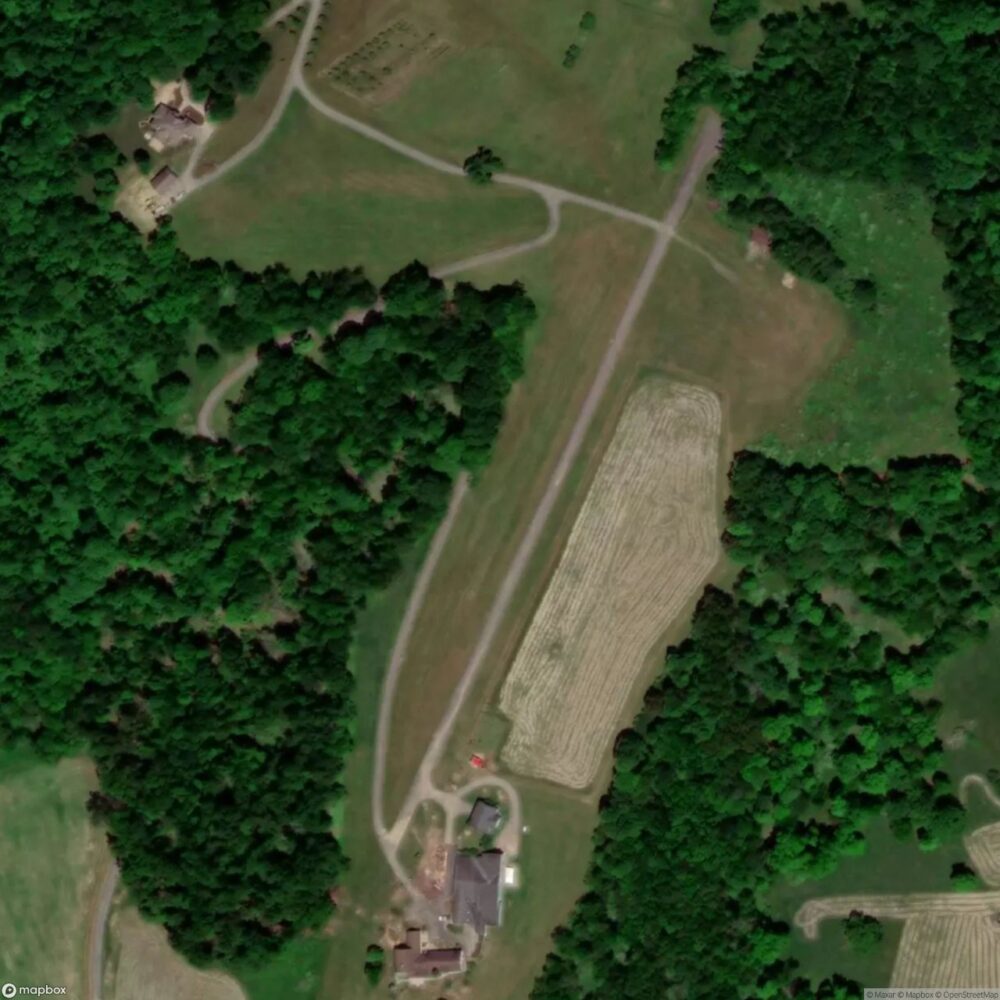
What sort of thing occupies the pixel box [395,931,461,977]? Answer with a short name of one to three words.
house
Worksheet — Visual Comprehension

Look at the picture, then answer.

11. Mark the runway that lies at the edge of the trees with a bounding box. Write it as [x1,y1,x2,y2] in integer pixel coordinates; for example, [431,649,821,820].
[385,108,723,846]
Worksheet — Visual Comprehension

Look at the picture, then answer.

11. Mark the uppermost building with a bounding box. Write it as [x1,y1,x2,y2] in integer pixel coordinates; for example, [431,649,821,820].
[152,104,196,147]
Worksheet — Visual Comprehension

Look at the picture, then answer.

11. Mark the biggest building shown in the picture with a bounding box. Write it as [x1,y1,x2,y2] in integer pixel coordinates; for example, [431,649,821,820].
[453,854,500,935]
